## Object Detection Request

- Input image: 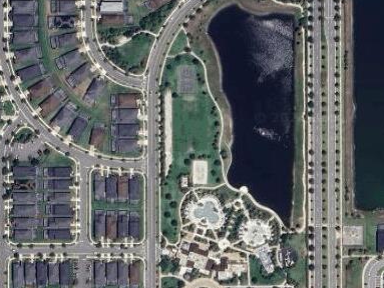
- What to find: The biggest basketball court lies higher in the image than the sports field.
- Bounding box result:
[178,64,197,95]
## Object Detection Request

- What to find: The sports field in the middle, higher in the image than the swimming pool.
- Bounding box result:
[174,99,218,155]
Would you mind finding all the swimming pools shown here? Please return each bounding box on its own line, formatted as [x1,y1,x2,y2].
[194,200,220,225]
